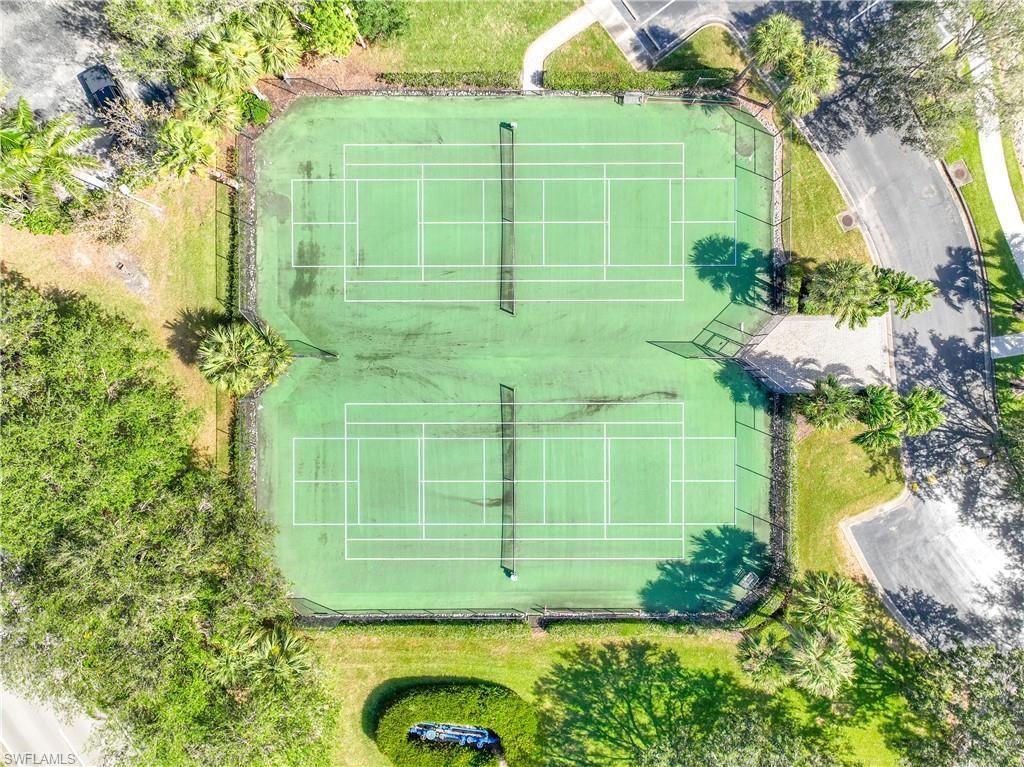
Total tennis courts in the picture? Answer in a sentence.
Altogether the scene contains 2 tennis courts.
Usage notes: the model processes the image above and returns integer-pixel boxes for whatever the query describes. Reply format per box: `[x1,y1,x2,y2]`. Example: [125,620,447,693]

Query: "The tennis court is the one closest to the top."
[256,95,773,356]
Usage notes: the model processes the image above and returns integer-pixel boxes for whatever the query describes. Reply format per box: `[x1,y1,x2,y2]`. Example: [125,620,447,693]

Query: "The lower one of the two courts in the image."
[256,356,773,614]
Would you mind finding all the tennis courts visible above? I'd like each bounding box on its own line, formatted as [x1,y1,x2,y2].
[256,95,773,356]
[256,356,773,614]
